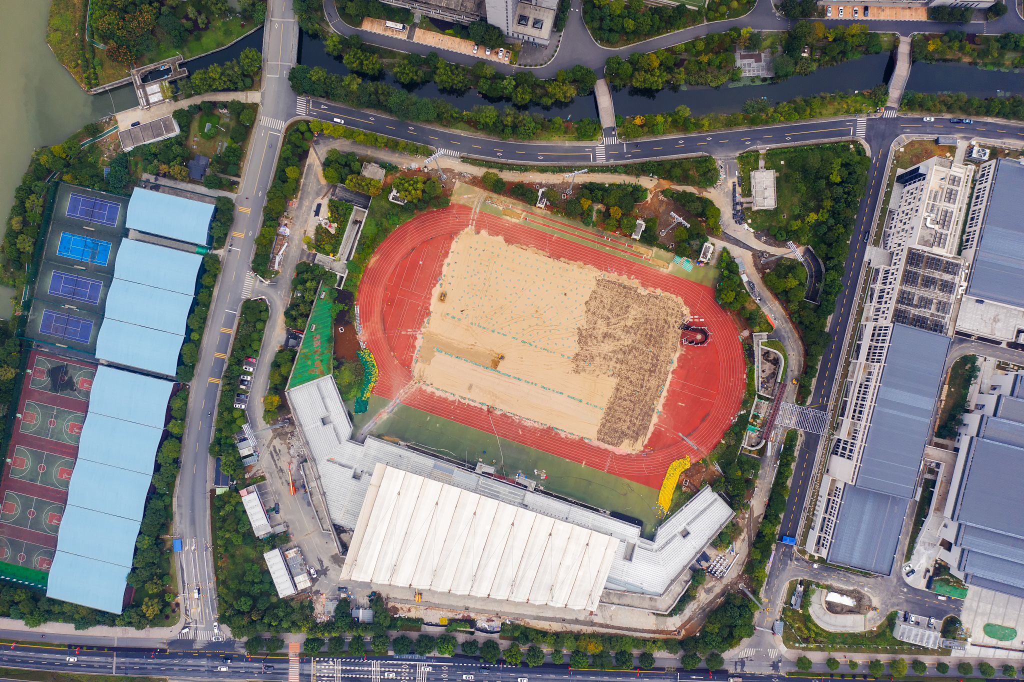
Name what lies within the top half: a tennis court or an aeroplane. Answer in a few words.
tennis court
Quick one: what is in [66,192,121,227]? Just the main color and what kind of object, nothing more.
blue tennis court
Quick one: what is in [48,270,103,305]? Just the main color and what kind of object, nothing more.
blue tennis court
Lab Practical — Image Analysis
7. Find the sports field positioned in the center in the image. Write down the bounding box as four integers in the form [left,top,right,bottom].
[411,229,689,453]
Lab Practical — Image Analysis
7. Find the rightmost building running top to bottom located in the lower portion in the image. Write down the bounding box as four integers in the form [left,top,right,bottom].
[931,373,1024,600]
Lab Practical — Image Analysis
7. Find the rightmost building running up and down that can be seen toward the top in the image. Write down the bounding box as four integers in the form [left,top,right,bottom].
[959,157,1024,309]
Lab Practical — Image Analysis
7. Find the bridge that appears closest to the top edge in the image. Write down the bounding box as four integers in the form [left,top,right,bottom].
[258,0,302,66]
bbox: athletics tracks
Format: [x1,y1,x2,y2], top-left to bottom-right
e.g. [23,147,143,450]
[356,201,746,490]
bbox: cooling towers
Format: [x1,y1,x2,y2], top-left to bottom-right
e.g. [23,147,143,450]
[972,148,990,161]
